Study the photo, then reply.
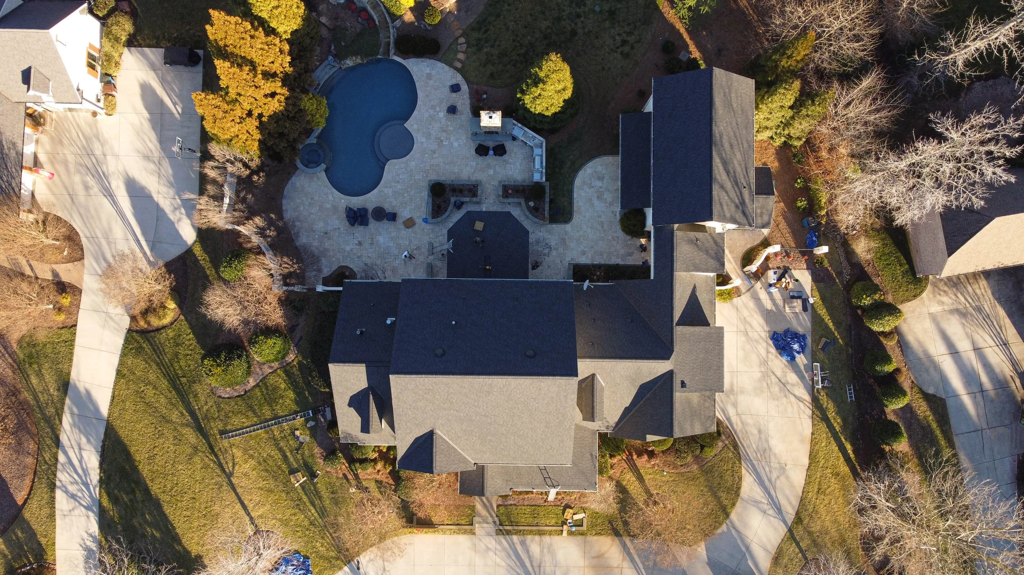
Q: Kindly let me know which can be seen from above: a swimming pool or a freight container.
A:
swimming pool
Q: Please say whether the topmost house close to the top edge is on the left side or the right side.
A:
left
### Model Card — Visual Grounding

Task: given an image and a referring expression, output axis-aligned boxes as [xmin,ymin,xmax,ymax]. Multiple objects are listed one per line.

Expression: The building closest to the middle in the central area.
[328,67,778,500]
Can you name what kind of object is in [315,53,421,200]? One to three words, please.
swimming pool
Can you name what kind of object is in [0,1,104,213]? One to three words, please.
house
